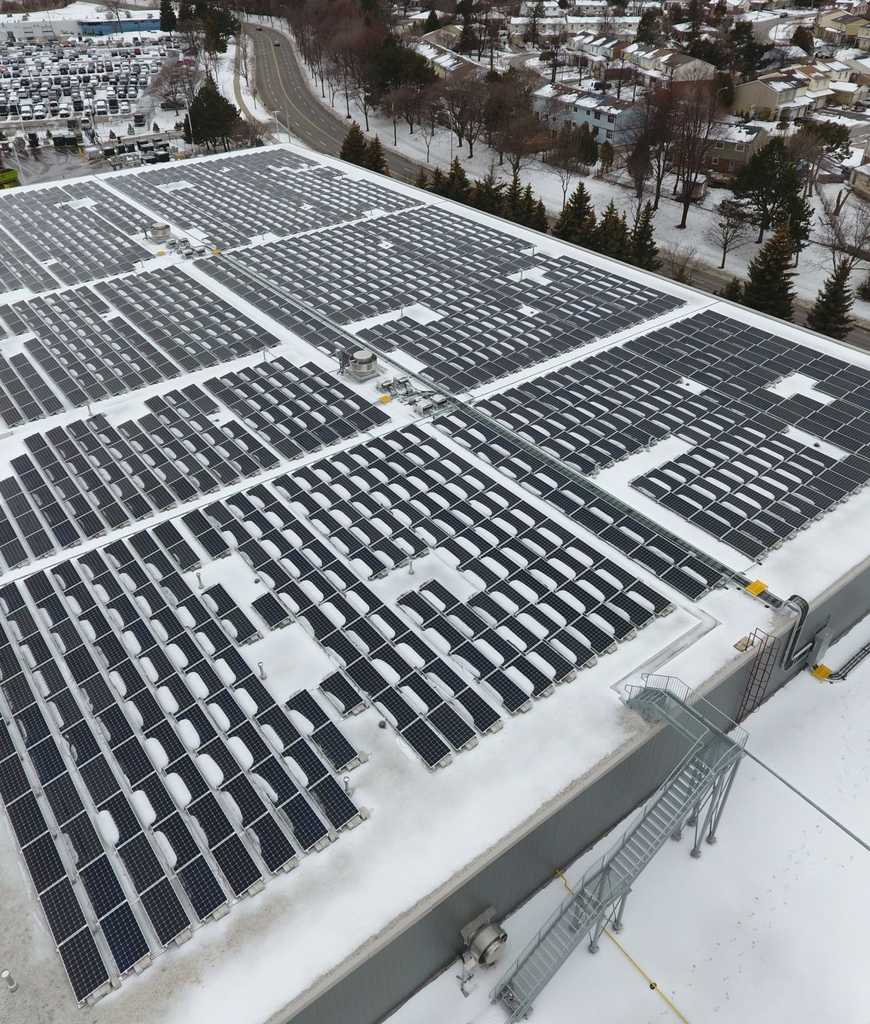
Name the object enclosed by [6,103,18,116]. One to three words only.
vehicle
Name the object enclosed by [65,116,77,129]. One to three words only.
vehicle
